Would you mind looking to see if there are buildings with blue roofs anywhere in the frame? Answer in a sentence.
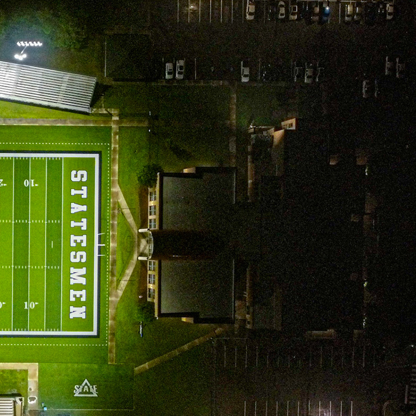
No, no building with a blue roof can be seen from above.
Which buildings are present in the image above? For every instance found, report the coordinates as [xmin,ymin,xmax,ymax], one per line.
[243,119,371,340]
[136,166,235,324]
